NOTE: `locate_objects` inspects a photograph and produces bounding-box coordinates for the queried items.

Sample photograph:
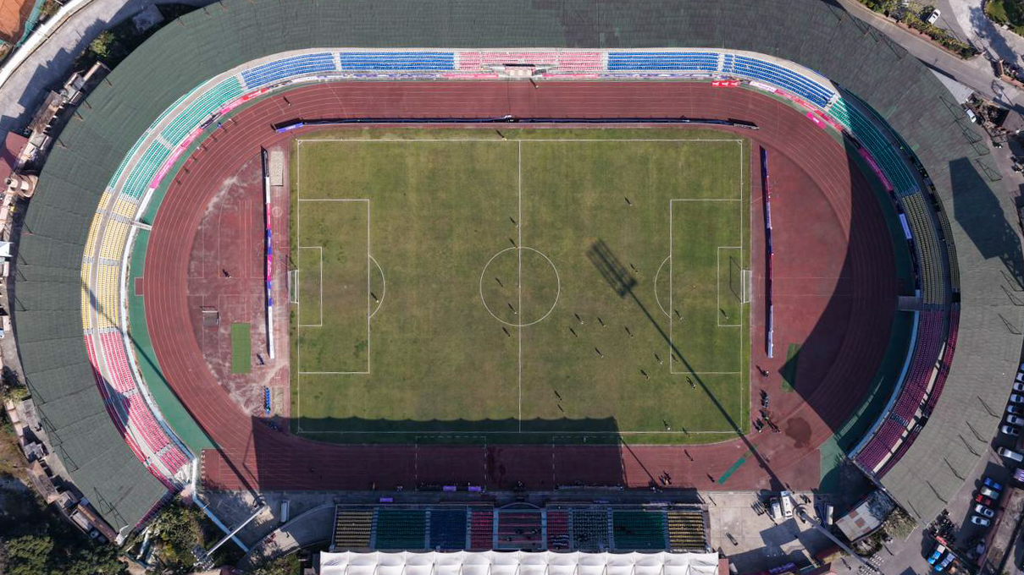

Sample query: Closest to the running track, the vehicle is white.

[780,491,795,521]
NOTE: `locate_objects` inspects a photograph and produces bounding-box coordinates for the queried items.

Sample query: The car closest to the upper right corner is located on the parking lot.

[926,7,941,25]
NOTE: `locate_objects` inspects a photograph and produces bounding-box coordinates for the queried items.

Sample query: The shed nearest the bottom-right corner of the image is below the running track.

[835,488,890,542]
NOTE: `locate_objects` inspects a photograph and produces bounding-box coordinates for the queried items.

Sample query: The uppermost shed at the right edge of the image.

[932,71,975,103]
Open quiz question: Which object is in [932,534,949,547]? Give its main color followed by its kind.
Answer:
red vehicle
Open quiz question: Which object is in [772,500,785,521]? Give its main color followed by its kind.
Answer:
white vehicle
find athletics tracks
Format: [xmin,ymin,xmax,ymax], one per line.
[135,80,896,492]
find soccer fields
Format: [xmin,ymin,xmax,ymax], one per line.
[291,128,751,444]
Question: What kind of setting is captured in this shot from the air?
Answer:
sports ground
